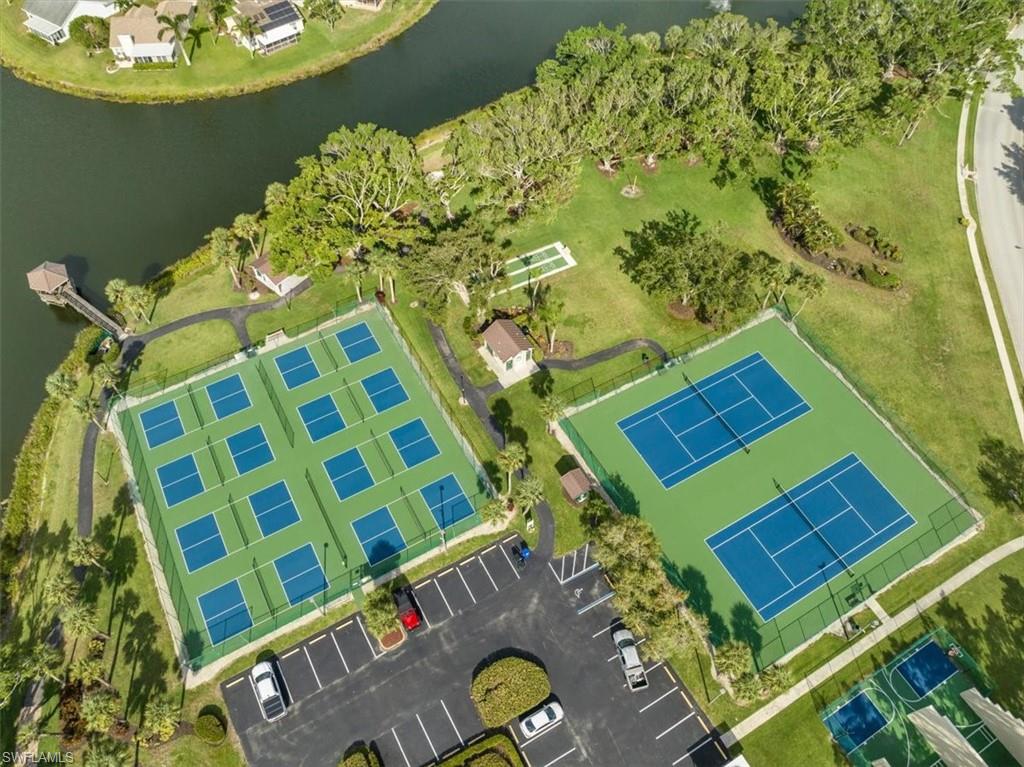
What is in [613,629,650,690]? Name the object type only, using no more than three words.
truck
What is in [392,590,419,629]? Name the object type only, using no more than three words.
car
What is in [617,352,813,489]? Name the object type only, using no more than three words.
tennis court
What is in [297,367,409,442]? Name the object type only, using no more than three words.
sports court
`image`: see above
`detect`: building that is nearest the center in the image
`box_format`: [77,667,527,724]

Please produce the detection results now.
[483,321,533,370]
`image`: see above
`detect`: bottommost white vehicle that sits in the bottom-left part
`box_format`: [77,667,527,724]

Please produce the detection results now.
[251,661,289,723]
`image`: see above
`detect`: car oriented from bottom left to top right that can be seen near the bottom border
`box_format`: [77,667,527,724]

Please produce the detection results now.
[520,702,565,739]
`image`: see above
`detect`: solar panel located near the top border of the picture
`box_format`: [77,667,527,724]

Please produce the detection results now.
[252,0,300,35]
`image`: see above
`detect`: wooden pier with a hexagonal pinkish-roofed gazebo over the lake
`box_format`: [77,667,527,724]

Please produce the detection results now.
[27,262,128,342]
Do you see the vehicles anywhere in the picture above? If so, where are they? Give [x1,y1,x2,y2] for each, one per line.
[613,629,650,690]
[392,590,419,629]
[520,702,565,739]
[251,661,289,723]
[518,548,529,565]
